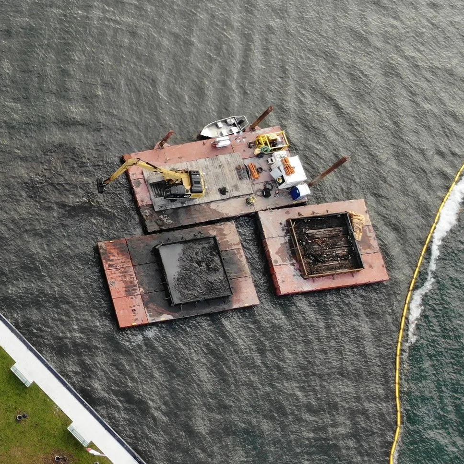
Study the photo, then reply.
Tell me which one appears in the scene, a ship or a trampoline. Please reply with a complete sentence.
Looking from above, you can make out a ship.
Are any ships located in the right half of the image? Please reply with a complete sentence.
Yes, the scene does show a ship in the right half of the image.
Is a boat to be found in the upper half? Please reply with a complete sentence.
Yes, in the upper half there is a boat.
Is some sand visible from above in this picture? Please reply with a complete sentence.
No, the picture contains no sand.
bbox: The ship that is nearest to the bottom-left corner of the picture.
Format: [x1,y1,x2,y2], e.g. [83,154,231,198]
[95,223,259,330]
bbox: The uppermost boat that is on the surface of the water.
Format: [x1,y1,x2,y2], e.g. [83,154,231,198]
[198,115,245,139]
